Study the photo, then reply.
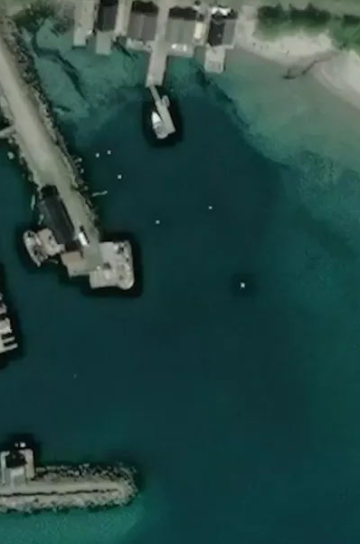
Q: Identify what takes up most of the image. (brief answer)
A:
water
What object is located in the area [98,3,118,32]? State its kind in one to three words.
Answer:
building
